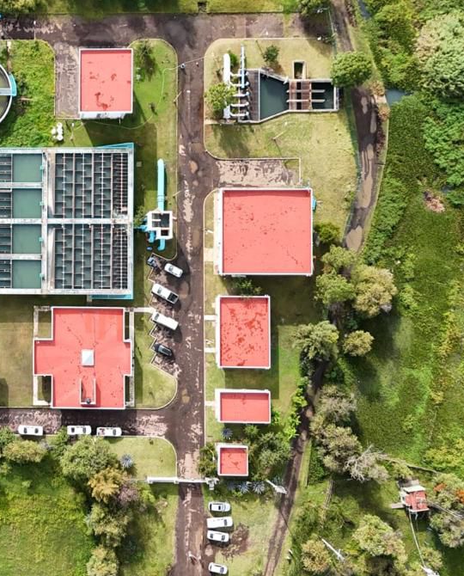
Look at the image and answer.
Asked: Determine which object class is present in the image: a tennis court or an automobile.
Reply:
automobile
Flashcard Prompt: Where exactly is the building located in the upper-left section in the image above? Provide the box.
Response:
[77,48,133,119]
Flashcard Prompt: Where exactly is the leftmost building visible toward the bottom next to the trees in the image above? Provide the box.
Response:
[34,306,131,408]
